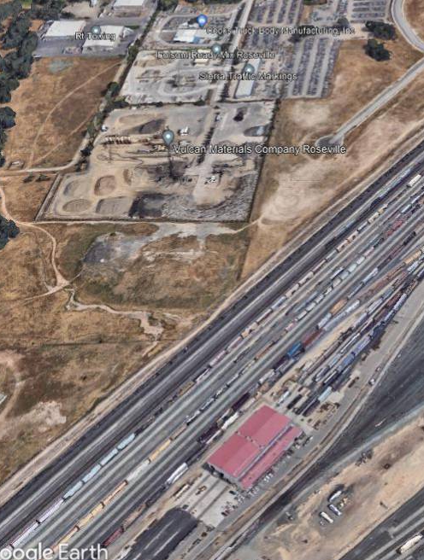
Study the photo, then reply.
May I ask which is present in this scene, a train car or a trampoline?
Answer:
train car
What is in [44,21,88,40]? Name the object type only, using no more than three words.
building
